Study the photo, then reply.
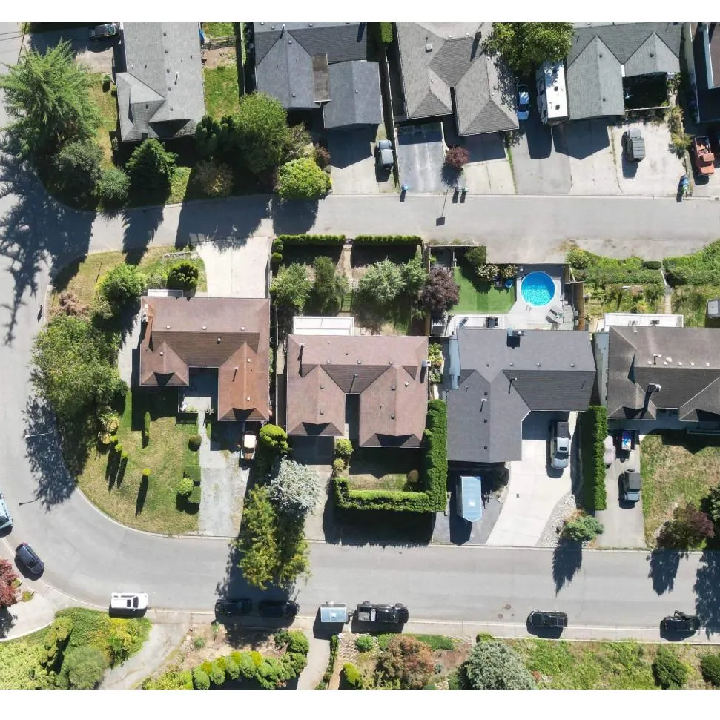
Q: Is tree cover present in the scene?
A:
Yes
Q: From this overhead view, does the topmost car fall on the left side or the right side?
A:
left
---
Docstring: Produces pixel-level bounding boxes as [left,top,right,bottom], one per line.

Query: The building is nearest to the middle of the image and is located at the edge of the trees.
[286,317,430,449]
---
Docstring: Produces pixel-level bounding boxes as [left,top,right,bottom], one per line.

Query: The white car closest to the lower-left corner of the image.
[109,591,148,613]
